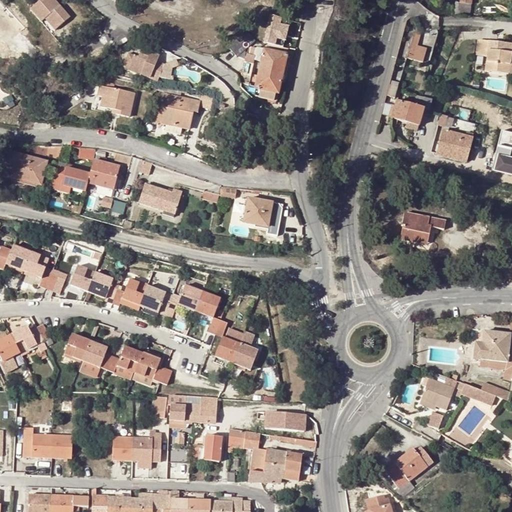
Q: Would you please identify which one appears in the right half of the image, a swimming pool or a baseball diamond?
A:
swimming pool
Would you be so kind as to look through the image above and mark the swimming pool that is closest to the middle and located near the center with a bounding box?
[229,225,250,238]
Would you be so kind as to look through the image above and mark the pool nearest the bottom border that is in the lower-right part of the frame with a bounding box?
[458,404,487,436]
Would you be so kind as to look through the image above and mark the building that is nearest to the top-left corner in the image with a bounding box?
[30,0,70,28]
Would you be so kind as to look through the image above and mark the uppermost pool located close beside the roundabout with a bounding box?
[427,345,462,366]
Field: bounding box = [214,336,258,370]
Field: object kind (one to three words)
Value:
house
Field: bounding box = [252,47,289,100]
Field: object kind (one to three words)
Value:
house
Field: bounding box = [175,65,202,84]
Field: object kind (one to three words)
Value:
swimming pool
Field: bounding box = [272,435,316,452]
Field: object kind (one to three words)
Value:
building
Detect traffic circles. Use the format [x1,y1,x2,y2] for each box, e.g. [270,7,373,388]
[326,302,411,386]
